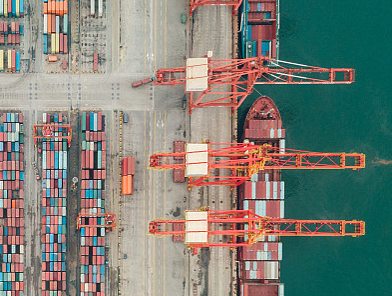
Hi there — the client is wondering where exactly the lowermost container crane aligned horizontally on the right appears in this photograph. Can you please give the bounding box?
[147,206,366,250]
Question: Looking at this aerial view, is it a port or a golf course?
port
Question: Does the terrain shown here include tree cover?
No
